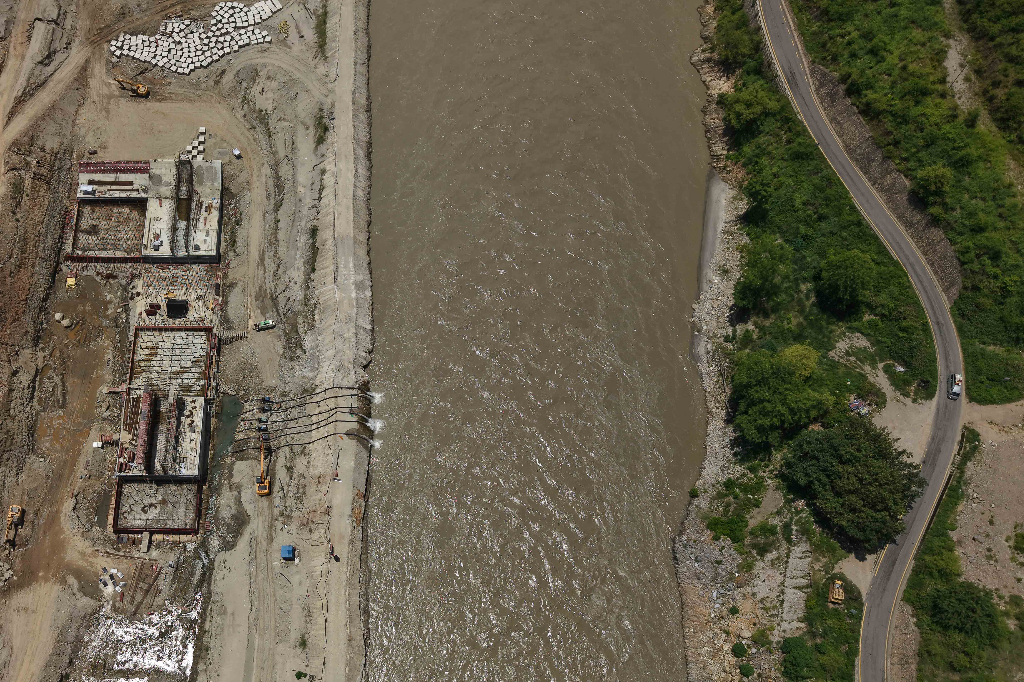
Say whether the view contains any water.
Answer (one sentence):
Yes, water can be seen from above here.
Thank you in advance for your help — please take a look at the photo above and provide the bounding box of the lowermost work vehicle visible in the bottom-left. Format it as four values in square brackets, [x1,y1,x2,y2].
[0,501,26,546]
